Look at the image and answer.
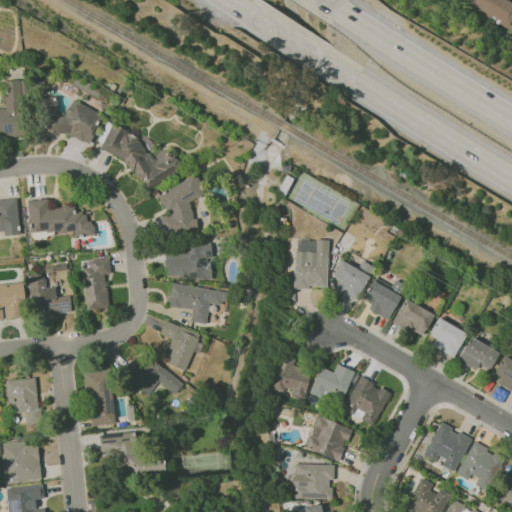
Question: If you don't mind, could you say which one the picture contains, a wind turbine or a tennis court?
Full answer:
This aerial view contains a tennis court.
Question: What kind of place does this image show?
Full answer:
This looks like a residential area.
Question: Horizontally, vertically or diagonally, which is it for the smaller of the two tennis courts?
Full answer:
The smaller of the two tennis courts runs horizontally in the image.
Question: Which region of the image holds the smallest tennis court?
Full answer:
Look in the bottom portion of the view to spot the smallest tennis court.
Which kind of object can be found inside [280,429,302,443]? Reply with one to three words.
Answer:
swimming pool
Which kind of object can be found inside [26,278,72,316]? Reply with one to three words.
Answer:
house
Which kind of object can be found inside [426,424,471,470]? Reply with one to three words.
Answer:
house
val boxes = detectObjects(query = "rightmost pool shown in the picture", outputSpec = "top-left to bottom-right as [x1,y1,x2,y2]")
[456,477,478,491]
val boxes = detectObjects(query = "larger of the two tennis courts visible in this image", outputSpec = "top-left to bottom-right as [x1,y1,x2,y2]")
[290,173,359,230]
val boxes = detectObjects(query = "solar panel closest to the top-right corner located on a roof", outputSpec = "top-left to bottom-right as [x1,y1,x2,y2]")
[298,240,316,252]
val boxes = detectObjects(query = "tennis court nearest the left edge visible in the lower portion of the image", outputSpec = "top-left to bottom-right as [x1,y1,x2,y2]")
[182,452,232,472]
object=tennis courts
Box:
[290,173,359,230]
[182,452,232,472]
